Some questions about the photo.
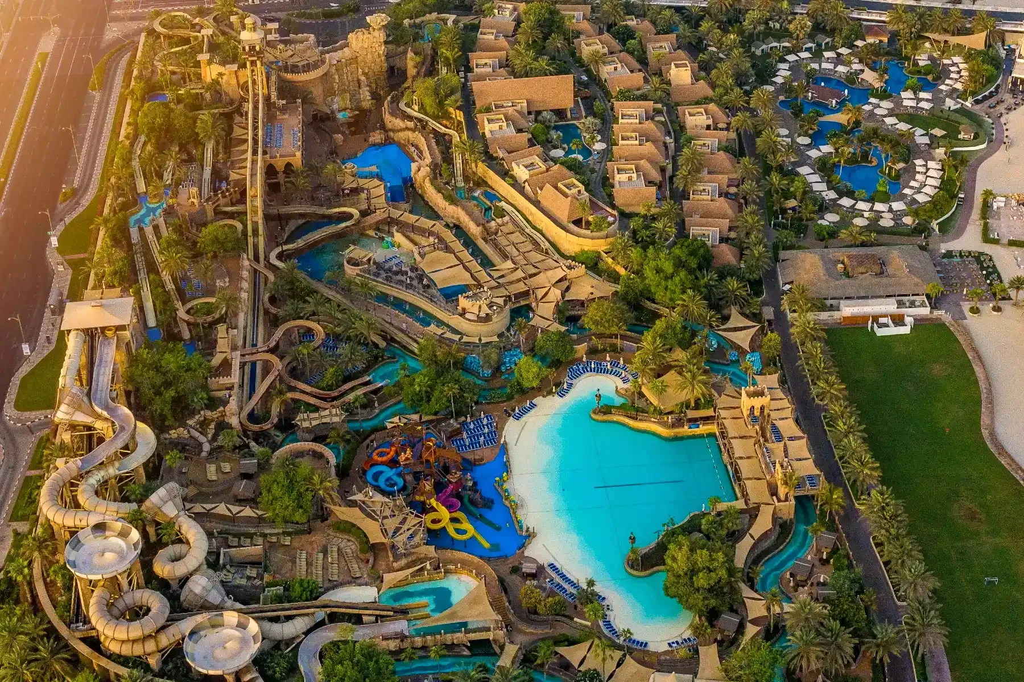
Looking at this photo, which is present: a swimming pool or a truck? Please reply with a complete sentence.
Visible in the photo is a swimming pool.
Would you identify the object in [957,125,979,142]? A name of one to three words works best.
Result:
gazebo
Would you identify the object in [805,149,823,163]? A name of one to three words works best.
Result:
umbrella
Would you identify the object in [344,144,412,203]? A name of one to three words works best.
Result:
swimming pool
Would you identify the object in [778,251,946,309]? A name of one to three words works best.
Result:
building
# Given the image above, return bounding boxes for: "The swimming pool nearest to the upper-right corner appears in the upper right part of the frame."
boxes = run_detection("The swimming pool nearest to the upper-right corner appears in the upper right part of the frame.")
[872,57,937,95]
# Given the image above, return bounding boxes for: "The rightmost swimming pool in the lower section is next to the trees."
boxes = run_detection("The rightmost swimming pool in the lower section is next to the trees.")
[505,373,737,653]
